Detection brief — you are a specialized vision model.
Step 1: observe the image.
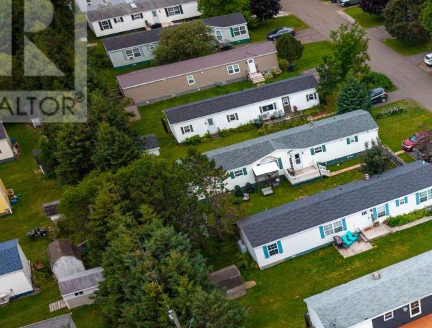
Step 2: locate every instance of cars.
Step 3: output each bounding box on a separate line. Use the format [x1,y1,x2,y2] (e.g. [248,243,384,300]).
[423,52,432,66]
[266,27,298,42]
[403,131,432,151]
[417,148,432,164]
[365,85,390,103]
